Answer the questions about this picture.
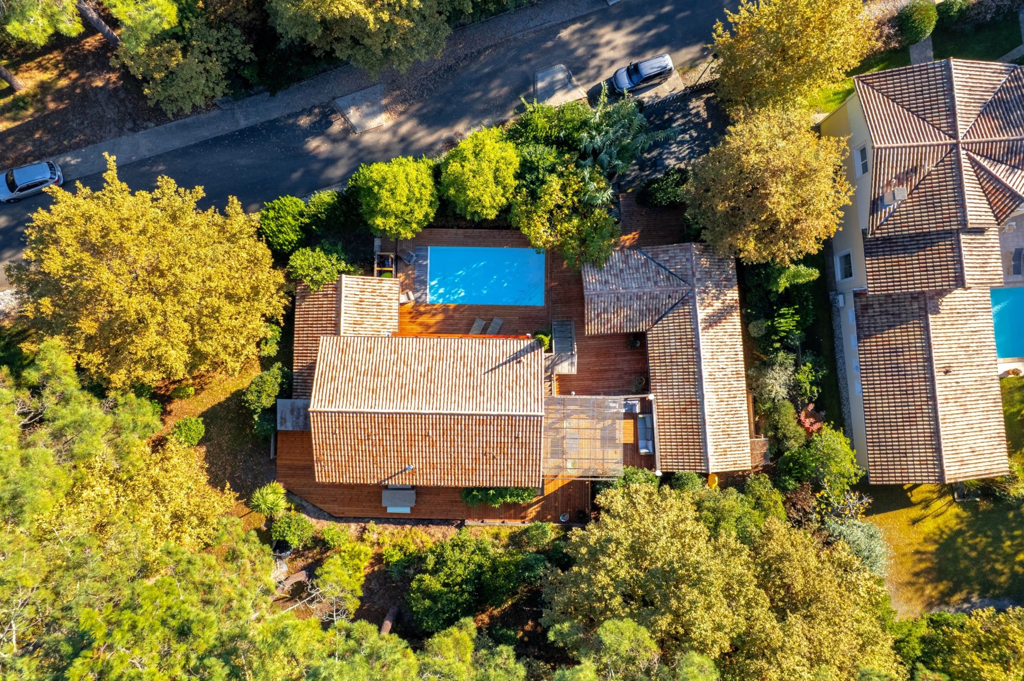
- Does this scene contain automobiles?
Yes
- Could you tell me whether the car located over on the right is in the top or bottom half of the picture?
top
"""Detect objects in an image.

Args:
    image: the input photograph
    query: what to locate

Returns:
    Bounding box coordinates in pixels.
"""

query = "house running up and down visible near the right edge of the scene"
[822,58,1024,485]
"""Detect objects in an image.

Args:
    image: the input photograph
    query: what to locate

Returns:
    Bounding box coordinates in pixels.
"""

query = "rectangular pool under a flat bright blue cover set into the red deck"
[415,246,545,305]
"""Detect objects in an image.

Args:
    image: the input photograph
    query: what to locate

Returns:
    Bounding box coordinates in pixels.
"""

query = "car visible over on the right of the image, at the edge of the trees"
[611,50,677,96]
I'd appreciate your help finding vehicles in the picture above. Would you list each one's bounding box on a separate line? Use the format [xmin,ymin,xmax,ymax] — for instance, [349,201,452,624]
[611,50,677,96]
[0,160,62,200]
